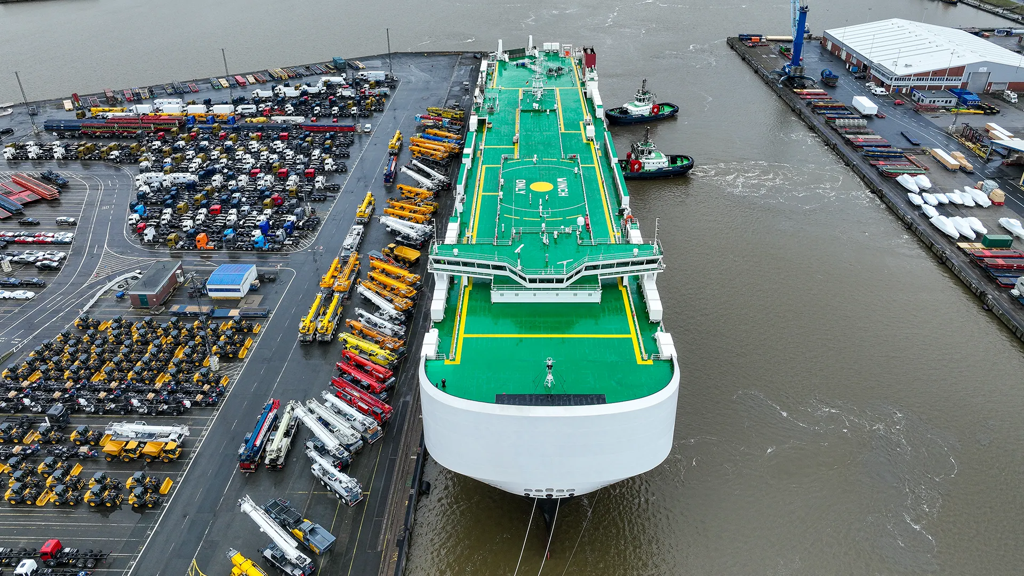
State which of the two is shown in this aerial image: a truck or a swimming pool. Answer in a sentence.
The one in the frame is a truck.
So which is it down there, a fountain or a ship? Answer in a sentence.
The image shows a ship.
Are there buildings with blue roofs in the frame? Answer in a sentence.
Yes, there's a building with a blue roof here.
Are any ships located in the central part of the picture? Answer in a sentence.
Yes, looking in the central part of the picture, one can make out a ship.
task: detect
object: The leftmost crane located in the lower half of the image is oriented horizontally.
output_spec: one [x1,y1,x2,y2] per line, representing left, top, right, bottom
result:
[99,416,192,446]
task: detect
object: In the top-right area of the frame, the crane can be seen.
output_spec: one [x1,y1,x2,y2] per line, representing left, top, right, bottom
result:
[762,0,829,86]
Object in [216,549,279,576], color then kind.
yellow crane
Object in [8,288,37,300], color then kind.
white vehicle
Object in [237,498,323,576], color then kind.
white crane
